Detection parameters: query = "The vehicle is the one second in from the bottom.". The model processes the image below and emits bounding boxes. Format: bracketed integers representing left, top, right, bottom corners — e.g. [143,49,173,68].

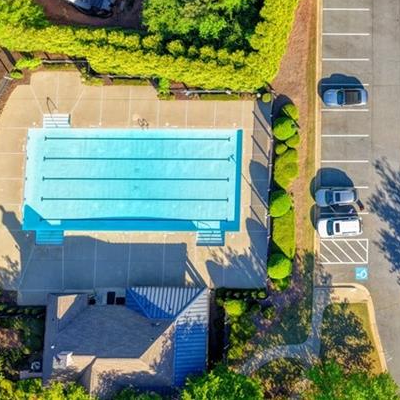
[315,188,357,214]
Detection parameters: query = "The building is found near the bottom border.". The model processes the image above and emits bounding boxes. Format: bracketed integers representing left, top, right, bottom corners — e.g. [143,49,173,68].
[42,285,212,400]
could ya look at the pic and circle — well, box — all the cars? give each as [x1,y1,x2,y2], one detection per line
[315,188,357,214]
[318,218,362,241]
[323,87,367,107]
